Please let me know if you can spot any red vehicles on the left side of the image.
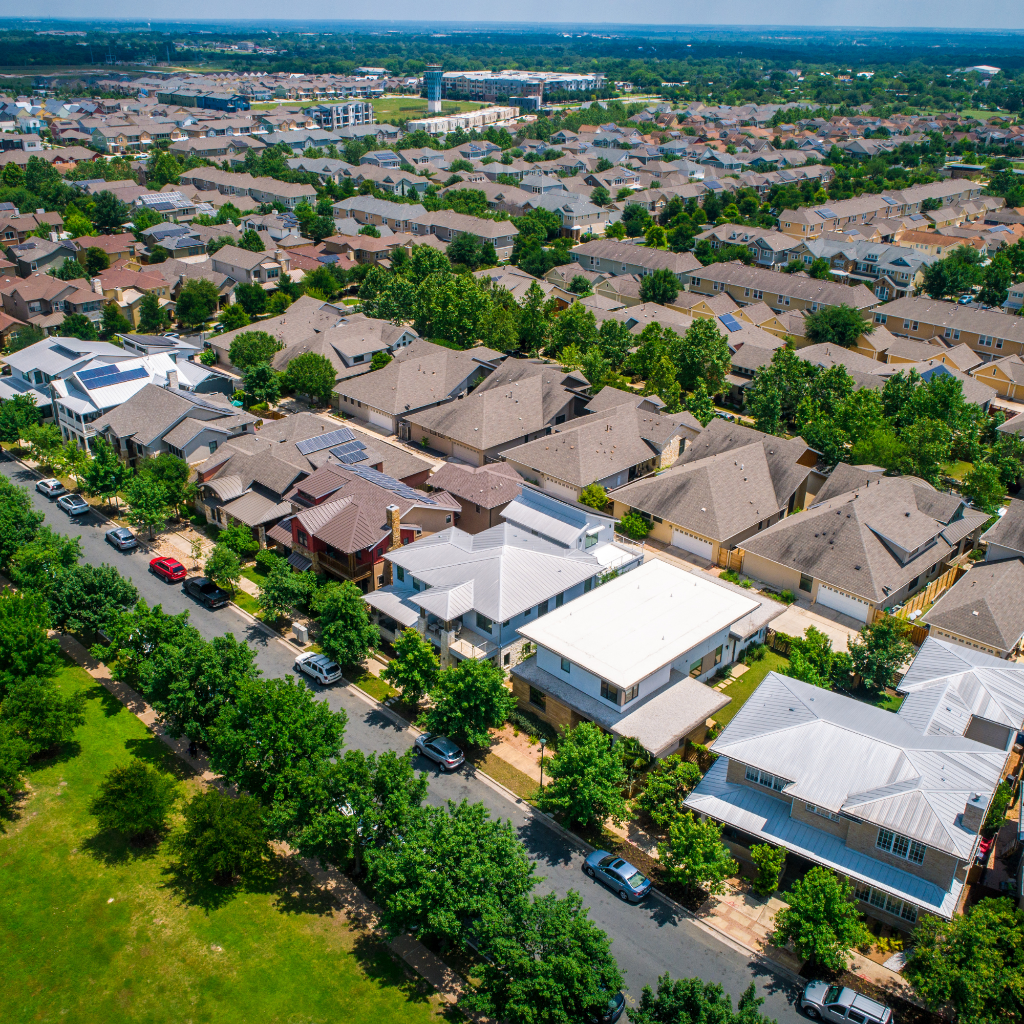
Yes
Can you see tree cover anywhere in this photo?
Yes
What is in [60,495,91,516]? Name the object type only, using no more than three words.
car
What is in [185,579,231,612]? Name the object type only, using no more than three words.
truck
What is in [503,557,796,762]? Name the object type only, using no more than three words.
house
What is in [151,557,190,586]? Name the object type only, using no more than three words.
car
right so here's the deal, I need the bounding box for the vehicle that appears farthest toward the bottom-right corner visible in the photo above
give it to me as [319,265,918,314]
[799,975,894,1024]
